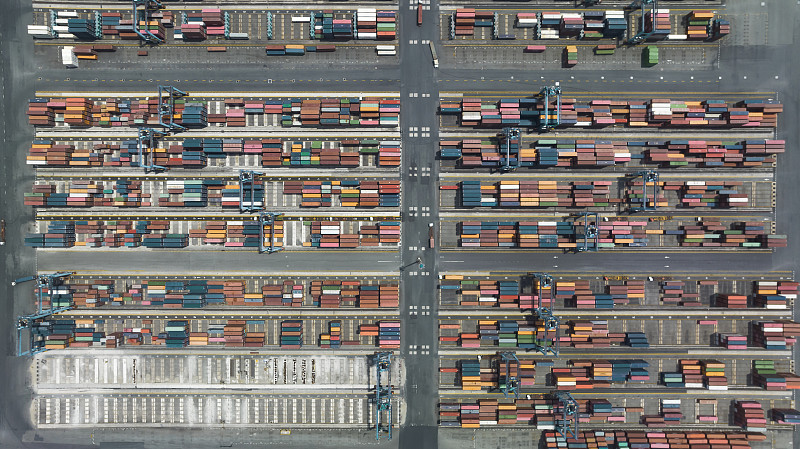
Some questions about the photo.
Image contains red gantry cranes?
No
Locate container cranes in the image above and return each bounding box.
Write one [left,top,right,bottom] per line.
[374,390,394,440]
[623,0,658,46]
[496,127,523,173]
[138,126,172,173]
[259,212,284,252]
[495,351,521,399]
[374,351,395,398]
[532,312,560,357]
[38,271,77,315]
[550,390,580,440]
[133,0,166,45]
[570,212,600,253]
[18,311,58,357]
[239,169,266,212]
[158,85,190,133]
[533,80,561,133]
[527,272,555,315]
[624,169,659,213]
